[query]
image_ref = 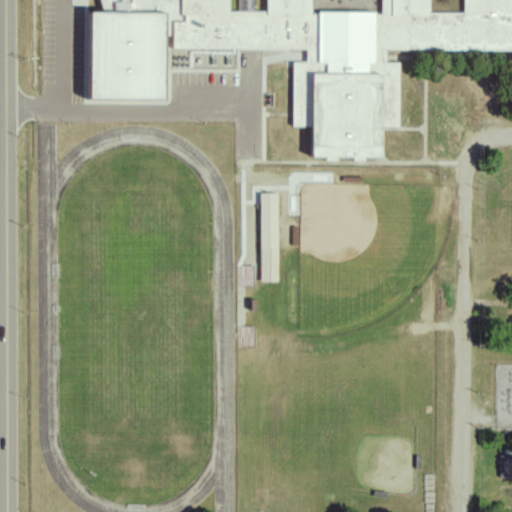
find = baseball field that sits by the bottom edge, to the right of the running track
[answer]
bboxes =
[360,436,412,493]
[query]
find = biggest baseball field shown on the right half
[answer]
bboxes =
[300,184,454,334]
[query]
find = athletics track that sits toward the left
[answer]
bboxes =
[38,122,234,512]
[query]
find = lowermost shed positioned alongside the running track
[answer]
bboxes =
[261,193,280,282]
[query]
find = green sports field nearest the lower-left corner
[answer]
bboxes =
[58,144,214,505]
